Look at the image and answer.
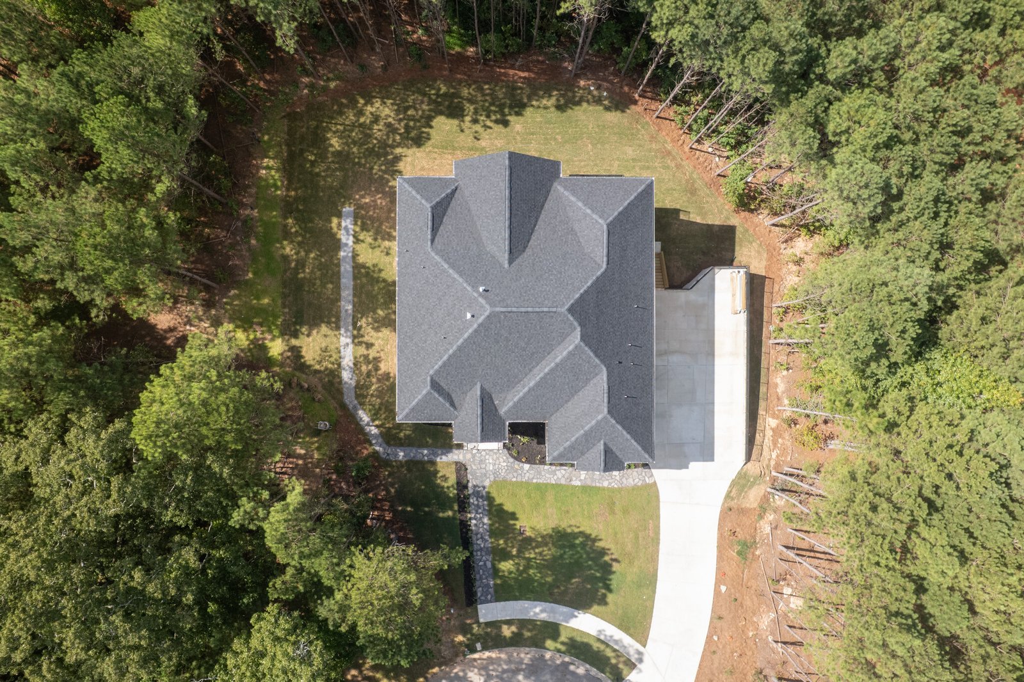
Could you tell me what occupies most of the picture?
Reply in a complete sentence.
What you mostly see from above here is trees.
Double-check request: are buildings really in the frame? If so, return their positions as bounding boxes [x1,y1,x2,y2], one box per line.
[395,149,656,474]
